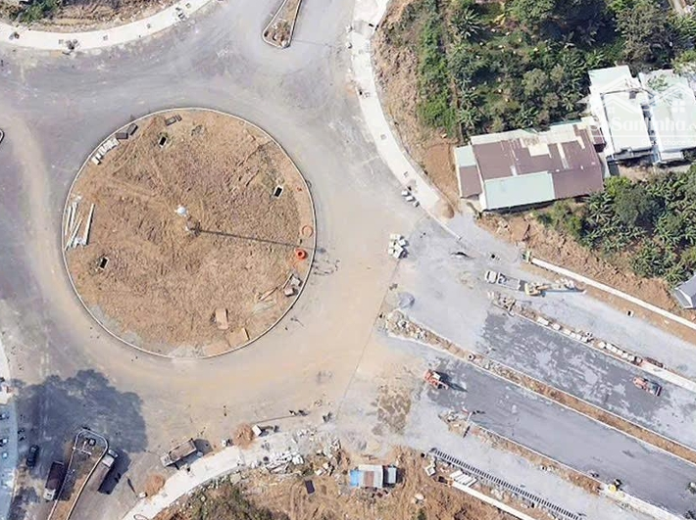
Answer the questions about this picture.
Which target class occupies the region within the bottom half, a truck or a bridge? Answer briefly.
truck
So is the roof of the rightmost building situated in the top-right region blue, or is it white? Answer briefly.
white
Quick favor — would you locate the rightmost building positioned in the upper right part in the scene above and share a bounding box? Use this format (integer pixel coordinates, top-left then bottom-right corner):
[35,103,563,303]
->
[635,66,696,160]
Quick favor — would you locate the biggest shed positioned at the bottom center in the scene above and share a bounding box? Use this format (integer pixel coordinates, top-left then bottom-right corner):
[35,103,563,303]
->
[351,465,384,487]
